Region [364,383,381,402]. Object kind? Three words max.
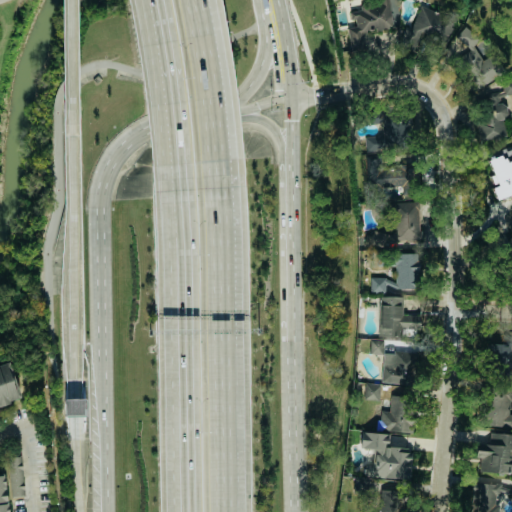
building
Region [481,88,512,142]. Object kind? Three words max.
house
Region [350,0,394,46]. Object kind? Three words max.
house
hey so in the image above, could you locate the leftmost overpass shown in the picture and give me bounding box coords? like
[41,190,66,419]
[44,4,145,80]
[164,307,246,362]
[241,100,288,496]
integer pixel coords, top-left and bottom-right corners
[62,0,86,424]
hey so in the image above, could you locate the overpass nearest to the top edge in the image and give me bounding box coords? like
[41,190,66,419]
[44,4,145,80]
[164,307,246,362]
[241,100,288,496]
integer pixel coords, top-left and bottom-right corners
[130,0,248,192]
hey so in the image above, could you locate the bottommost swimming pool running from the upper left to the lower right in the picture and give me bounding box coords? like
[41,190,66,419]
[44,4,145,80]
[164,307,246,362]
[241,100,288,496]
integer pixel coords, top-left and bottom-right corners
[362,357,379,378]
